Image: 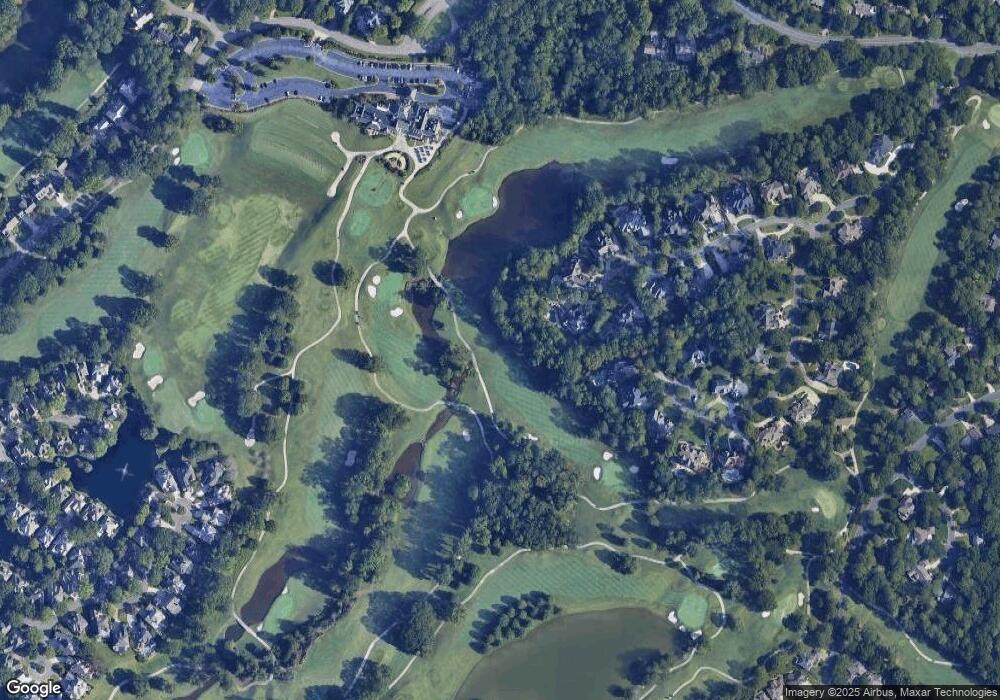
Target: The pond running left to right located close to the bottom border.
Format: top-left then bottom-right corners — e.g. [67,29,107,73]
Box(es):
[456,606,688,700]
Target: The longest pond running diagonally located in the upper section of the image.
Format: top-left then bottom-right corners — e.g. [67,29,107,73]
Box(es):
[440,162,598,338]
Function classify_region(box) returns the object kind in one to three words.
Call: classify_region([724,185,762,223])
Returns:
house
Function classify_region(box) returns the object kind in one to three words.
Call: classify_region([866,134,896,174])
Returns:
house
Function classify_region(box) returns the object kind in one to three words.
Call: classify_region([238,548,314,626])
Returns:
pond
